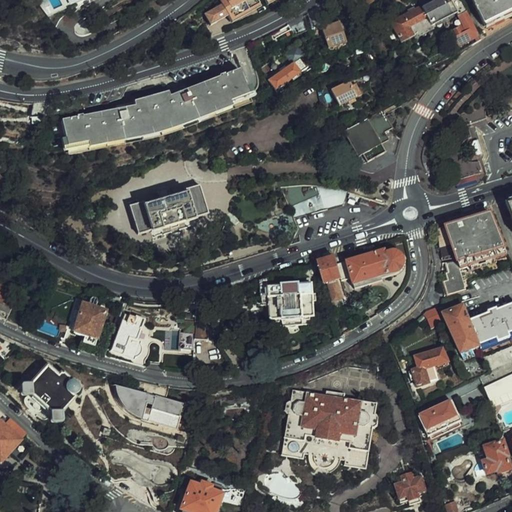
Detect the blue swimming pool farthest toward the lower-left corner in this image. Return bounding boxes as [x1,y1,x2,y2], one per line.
[37,320,60,338]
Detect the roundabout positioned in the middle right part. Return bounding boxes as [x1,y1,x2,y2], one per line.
[384,184,440,234]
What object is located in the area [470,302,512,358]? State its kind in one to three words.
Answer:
building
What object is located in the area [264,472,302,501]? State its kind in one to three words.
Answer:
swimming pool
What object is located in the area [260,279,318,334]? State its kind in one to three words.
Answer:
house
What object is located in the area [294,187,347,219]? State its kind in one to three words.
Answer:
shed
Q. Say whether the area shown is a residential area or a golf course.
residential area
